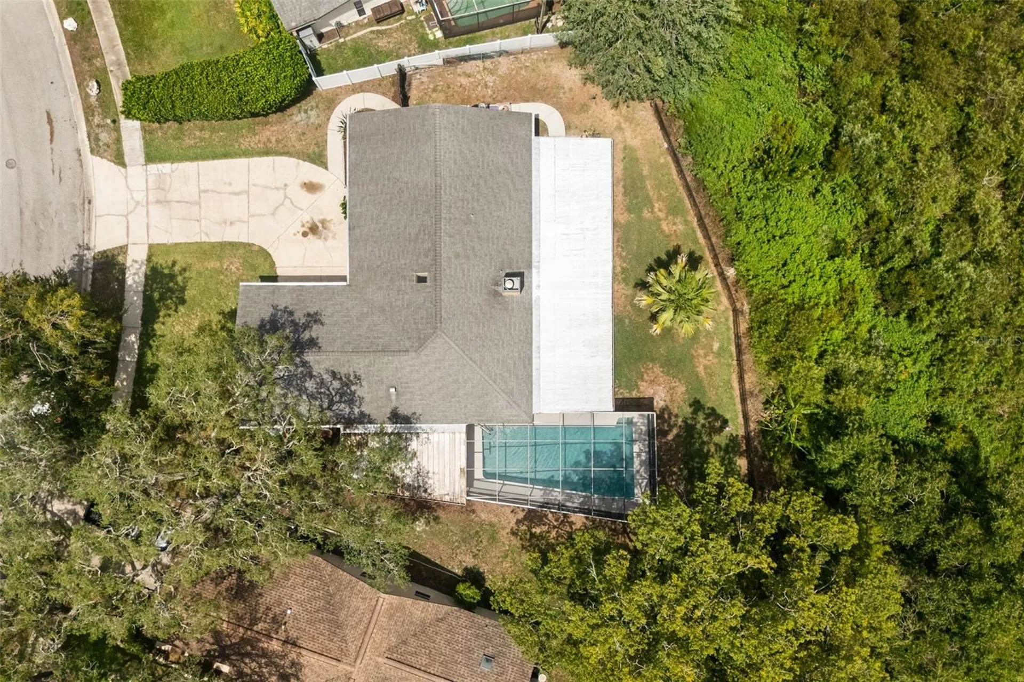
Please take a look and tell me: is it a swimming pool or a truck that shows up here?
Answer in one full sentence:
Looking from above, you can make out a swimming pool.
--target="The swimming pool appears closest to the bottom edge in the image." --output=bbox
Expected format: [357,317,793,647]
[476,413,640,502]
